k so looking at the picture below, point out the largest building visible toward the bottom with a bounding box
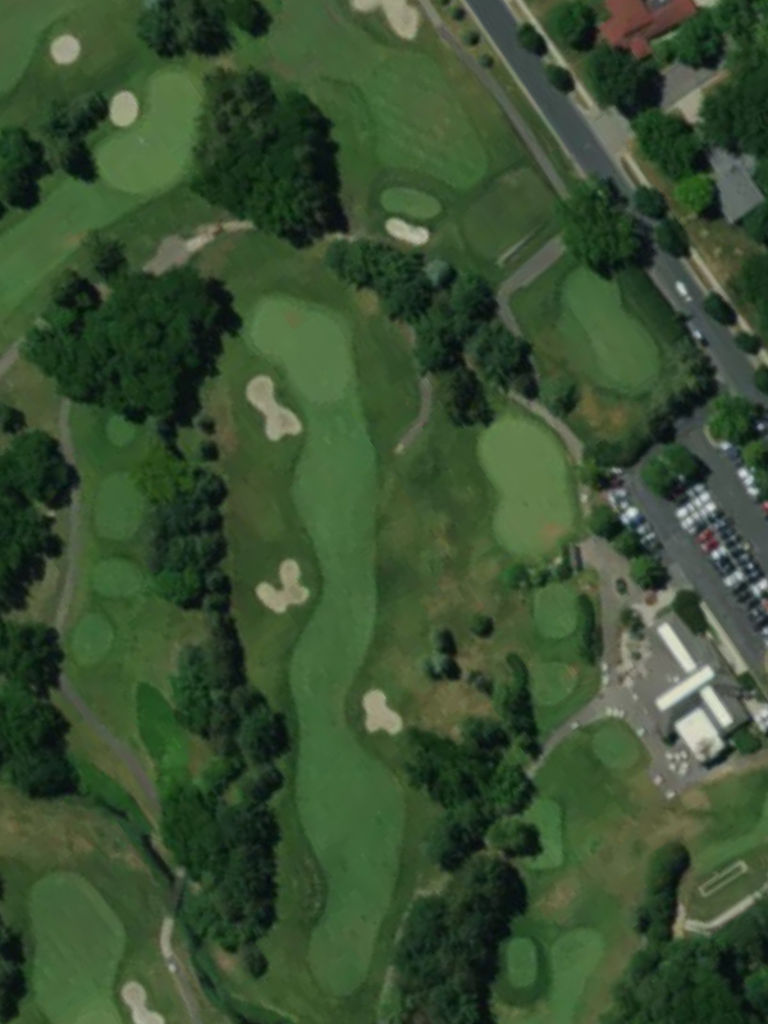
[648,608,755,761]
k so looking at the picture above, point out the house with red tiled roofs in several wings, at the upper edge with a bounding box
[602,0,699,58]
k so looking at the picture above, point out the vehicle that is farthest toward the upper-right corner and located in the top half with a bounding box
[673,278,693,300]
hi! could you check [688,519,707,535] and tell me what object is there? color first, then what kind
gray car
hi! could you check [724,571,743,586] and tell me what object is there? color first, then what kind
white car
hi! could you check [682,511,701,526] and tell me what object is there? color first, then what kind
white car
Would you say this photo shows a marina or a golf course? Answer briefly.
golf course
